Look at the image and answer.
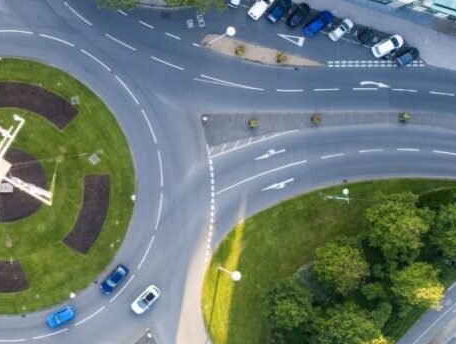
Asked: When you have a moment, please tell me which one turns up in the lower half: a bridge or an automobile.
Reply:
automobile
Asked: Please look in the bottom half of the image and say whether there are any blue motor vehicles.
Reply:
Yes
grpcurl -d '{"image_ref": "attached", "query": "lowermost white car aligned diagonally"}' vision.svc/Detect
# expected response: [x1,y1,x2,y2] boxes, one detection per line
[130,284,163,317]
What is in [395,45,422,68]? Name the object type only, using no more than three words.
car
